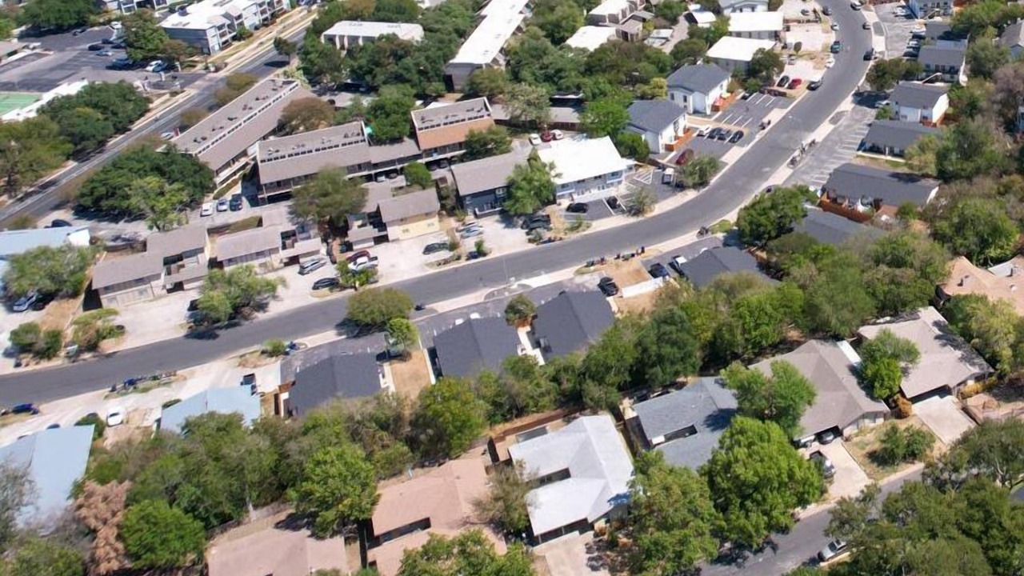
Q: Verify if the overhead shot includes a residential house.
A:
Yes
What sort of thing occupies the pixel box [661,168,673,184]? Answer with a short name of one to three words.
vehicle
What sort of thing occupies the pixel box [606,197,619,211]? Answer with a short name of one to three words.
vehicle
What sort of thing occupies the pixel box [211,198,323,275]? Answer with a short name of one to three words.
house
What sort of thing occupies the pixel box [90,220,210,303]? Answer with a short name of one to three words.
house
